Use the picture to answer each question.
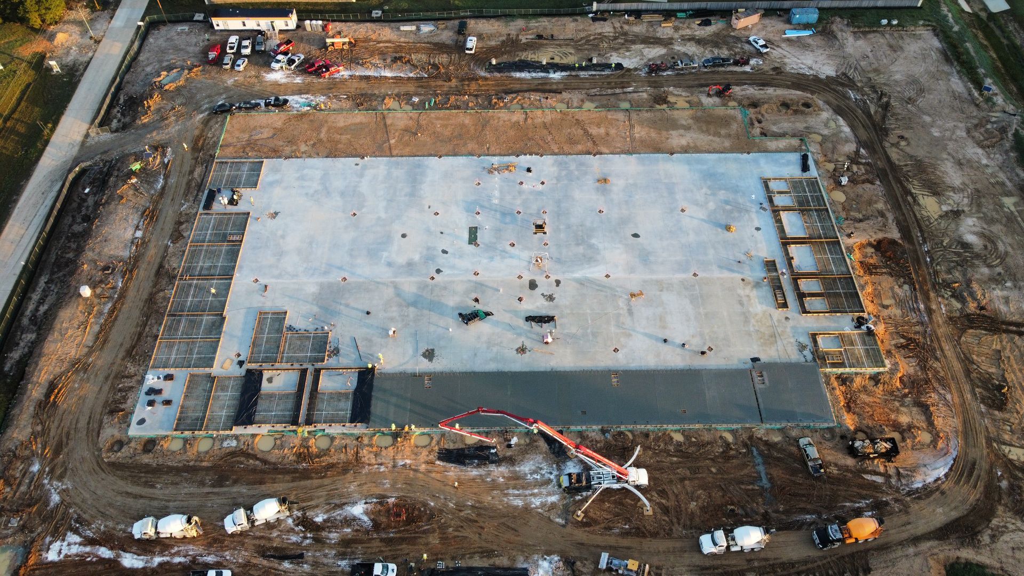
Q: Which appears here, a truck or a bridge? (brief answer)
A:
truck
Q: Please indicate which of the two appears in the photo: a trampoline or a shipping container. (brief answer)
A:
shipping container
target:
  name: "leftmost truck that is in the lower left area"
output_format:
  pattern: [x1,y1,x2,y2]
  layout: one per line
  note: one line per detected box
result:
[129,514,203,541]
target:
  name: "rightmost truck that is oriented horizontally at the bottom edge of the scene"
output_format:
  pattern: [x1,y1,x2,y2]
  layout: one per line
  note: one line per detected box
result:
[808,517,886,549]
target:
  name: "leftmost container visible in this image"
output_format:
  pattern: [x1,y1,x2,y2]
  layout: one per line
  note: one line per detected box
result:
[730,6,763,31]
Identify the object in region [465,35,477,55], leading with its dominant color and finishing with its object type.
white vehicle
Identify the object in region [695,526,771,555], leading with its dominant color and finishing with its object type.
white truck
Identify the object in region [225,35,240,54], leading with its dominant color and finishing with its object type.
white vehicle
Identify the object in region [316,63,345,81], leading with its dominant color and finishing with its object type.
red vehicle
